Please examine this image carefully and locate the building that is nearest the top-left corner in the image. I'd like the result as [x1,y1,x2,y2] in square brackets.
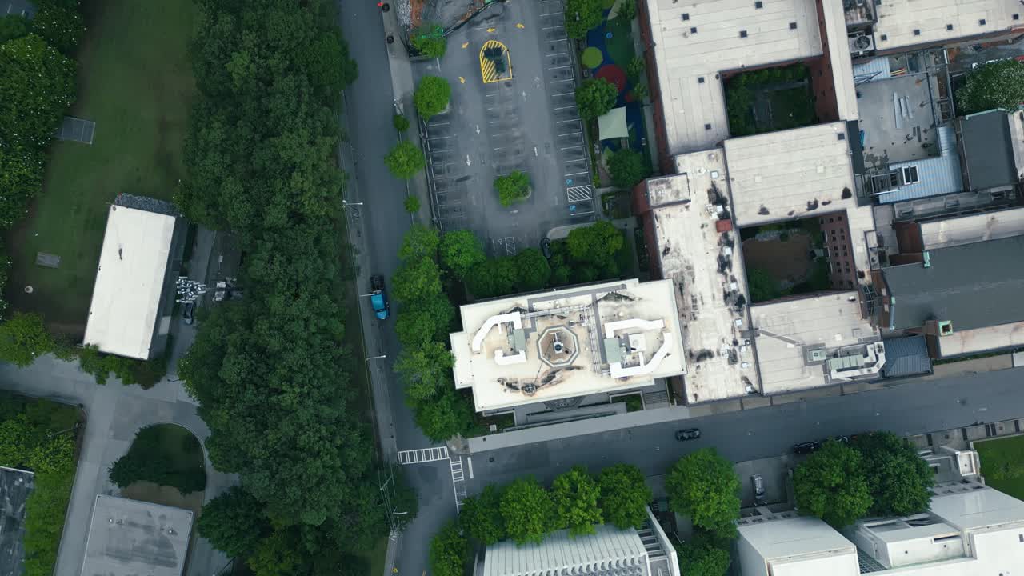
[83,205,193,358]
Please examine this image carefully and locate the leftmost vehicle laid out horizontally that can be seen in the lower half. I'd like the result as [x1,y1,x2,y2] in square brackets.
[675,428,701,441]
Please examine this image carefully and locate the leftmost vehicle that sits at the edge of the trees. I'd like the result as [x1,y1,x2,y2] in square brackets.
[183,302,196,324]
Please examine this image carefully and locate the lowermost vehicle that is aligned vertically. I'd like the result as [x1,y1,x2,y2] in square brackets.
[751,474,765,501]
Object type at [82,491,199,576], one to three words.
building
